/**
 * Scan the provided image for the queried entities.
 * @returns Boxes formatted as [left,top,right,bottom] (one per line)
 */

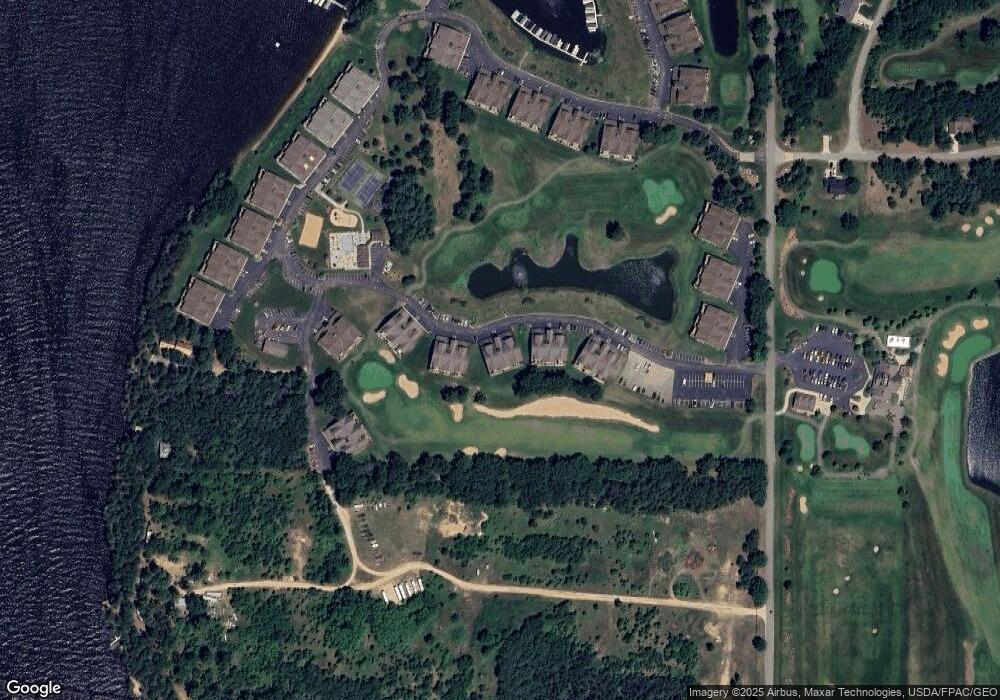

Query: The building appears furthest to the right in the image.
[947,118,975,134]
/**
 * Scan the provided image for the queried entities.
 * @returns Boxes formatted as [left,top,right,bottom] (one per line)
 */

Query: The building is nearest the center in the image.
[481,334,523,377]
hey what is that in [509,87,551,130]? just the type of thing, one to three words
building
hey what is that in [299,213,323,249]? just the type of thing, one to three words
sports court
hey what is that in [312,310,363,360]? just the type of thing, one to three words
building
